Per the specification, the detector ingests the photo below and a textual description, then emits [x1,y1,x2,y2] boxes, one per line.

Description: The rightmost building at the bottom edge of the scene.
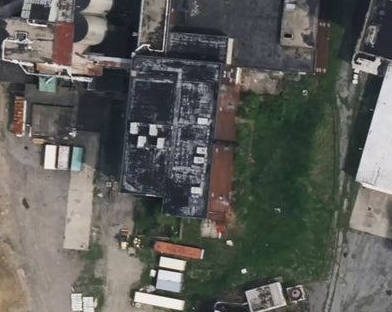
[246,281,291,312]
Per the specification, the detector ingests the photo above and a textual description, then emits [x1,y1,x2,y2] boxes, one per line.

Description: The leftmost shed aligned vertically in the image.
[13,96,29,138]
